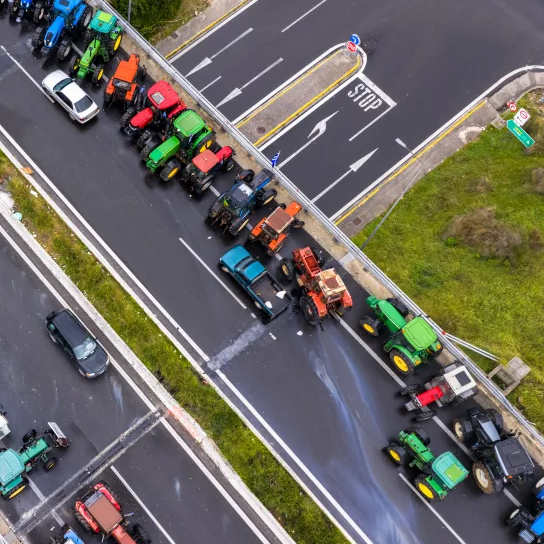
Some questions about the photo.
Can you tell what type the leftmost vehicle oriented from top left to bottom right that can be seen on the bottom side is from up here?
automobile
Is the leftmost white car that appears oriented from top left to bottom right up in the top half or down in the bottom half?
top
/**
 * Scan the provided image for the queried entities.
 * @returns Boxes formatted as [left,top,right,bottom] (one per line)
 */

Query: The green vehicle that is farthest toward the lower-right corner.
[384,427,469,508]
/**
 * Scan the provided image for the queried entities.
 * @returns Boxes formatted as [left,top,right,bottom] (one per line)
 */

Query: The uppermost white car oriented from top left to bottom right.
[40,70,104,126]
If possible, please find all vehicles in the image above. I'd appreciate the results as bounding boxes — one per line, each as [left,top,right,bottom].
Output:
[138,108,214,181]
[43,306,109,380]
[206,163,284,236]
[214,247,294,322]
[101,54,145,116]
[447,404,538,496]
[177,147,237,200]
[0,424,74,504]
[355,294,441,375]
[282,247,357,323]
[72,484,151,544]
[33,0,94,63]
[40,70,104,126]
[501,475,544,544]
[10,0,47,21]
[401,363,477,424]
[247,202,307,258]
[121,79,187,144]
[384,427,469,508]
[69,11,124,90]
